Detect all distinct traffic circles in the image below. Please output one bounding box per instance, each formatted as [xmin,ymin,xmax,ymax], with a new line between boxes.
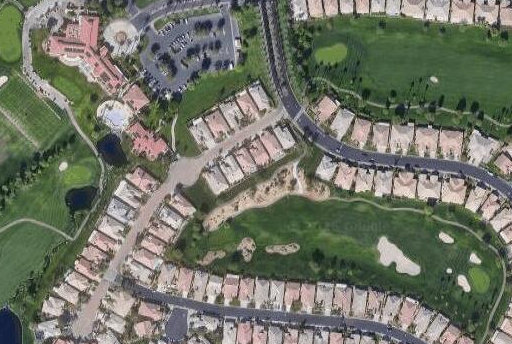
[104,19,140,60]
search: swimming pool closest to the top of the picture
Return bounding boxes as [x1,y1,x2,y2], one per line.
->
[97,100,131,131]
